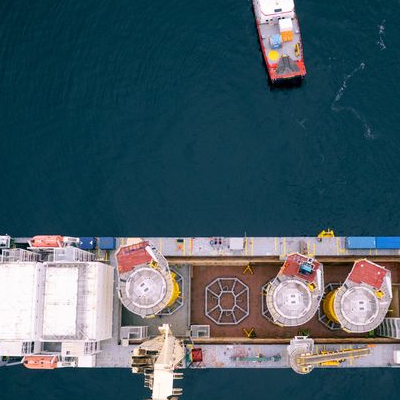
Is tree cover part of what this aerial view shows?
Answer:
No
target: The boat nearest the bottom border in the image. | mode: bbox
[18,352,57,369]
